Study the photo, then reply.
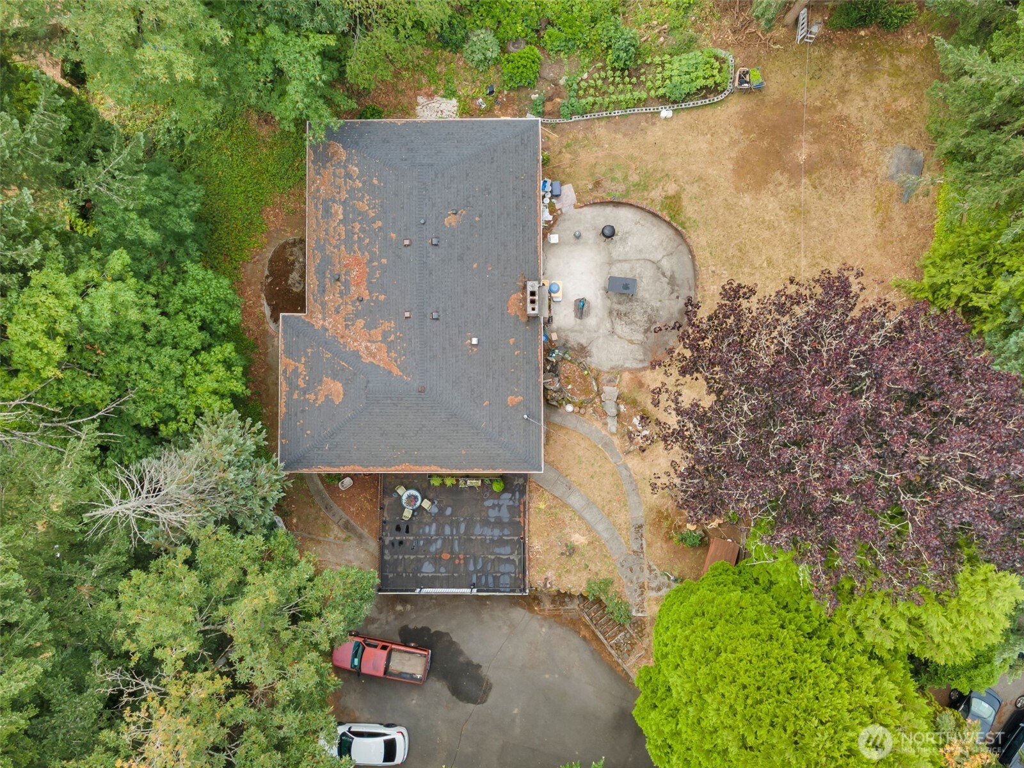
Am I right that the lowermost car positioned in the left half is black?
No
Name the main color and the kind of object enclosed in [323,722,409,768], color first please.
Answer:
white car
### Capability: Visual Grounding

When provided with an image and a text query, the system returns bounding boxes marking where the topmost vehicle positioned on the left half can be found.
[329,629,435,686]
